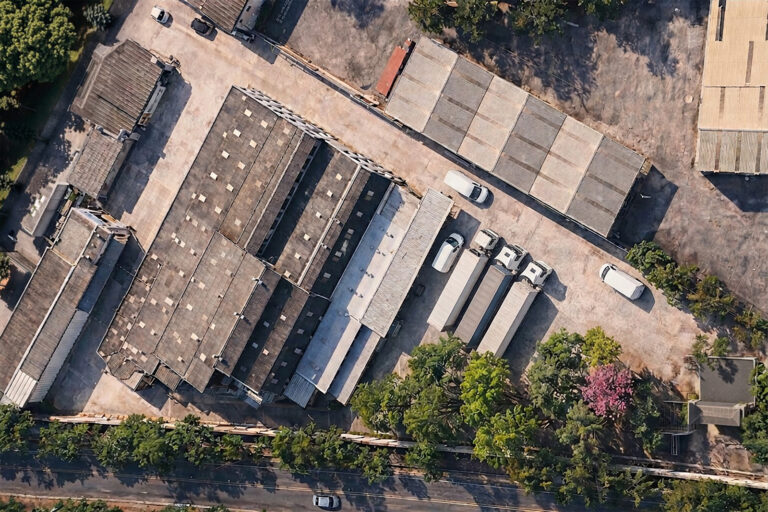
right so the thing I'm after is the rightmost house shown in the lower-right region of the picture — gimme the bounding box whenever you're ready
[688,357,760,431]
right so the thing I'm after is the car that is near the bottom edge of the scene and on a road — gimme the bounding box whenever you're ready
[310,496,339,510]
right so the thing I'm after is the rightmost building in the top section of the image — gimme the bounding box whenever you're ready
[697,0,768,174]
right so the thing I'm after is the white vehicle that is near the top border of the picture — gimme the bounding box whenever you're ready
[147,5,171,24]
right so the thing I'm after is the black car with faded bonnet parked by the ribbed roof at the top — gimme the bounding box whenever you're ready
[188,16,215,35]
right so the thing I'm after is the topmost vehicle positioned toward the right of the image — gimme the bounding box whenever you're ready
[442,172,488,201]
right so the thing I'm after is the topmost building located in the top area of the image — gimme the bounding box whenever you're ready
[182,0,267,37]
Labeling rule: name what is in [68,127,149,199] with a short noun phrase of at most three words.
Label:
house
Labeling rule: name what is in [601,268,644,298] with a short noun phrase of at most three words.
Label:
van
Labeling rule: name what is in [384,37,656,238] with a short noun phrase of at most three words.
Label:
warehouse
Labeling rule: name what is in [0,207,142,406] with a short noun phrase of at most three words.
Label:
building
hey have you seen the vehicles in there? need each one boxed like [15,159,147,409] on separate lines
[147,5,171,24]
[454,244,524,345]
[188,16,215,35]
[478,261,548,362]
[428,228,499,329]
[601,268,644,298]
[310,496,339,510]
[431,235,462,271]
[442,172,488,201]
